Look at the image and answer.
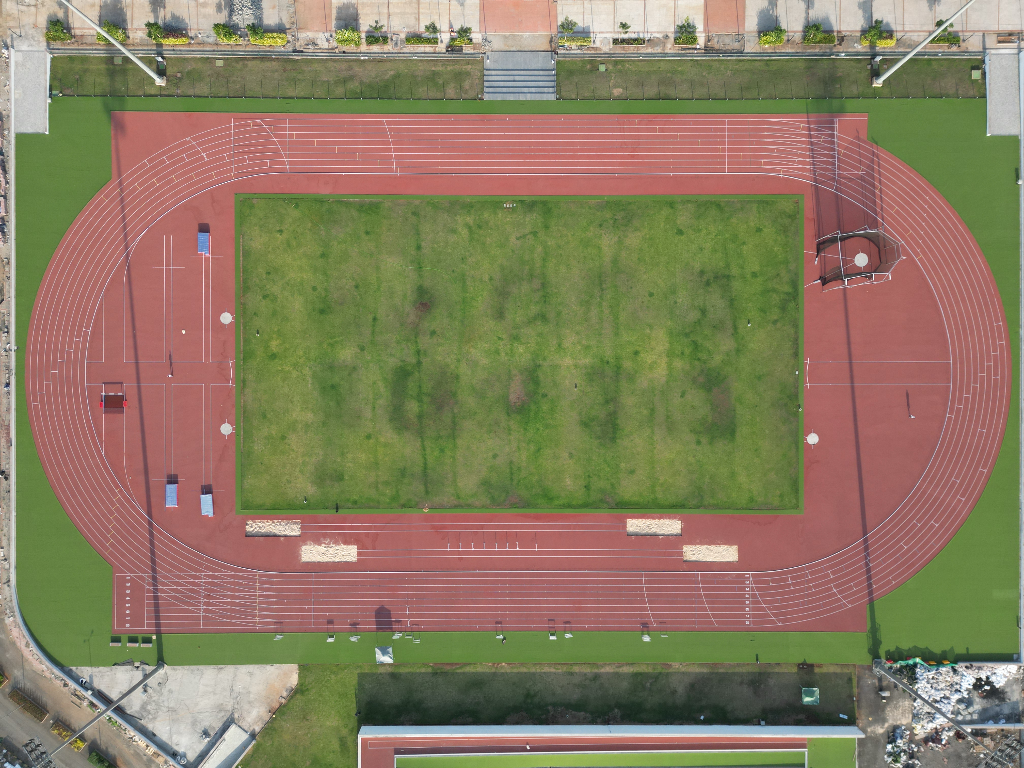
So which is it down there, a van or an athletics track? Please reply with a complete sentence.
It is an athletics track that can be seen here.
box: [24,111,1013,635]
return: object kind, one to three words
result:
running track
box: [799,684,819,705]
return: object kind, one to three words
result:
tent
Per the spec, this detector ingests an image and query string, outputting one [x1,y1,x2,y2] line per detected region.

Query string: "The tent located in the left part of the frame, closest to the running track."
[375,641,396,664]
